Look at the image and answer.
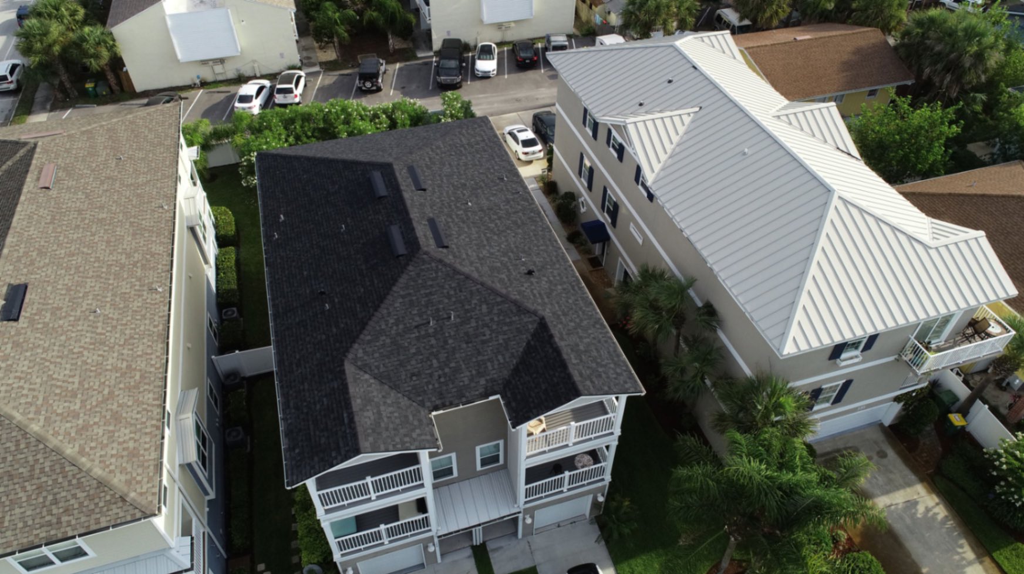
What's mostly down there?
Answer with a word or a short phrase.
buildings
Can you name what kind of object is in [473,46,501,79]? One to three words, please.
car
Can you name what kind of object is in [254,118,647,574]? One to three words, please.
house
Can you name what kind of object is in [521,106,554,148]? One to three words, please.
car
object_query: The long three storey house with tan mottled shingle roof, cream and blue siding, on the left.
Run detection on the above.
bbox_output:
[0,103,226,574]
